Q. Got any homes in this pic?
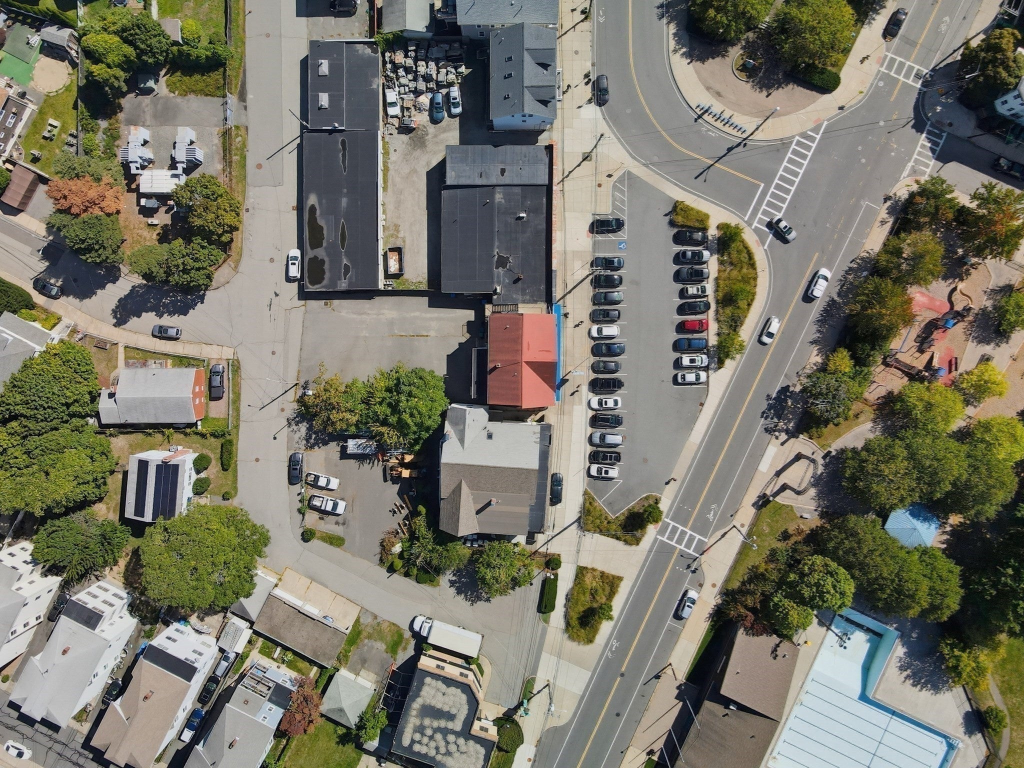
Yes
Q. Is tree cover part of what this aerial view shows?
Yes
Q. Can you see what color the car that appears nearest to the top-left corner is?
black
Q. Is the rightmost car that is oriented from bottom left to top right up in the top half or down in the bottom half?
top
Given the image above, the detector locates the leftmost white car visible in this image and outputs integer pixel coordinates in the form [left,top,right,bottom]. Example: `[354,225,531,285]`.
[4,739,33,759]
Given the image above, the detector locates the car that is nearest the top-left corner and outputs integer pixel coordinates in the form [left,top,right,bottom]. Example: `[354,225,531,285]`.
[31,277,64,299]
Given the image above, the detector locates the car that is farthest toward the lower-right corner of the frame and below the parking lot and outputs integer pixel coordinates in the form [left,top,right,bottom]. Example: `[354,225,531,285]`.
[677,589,698,619]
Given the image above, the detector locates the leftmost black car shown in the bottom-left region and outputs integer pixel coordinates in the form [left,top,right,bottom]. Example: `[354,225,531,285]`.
[48,592,71,621]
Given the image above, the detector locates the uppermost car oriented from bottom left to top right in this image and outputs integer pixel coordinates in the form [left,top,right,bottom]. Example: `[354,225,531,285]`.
[882,7,909,42]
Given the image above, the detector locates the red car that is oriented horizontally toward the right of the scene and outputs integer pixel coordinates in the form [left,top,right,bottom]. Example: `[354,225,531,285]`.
[682,319,709,332]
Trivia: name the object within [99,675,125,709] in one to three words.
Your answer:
truck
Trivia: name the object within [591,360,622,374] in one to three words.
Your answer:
car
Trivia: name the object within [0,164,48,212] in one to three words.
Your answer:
shed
